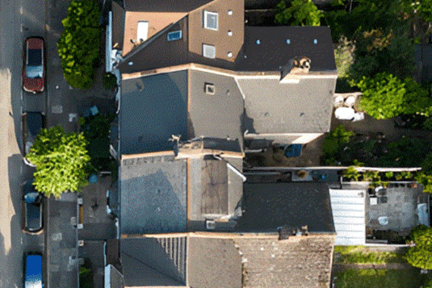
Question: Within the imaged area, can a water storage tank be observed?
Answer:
No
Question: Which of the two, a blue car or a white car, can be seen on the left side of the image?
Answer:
blue car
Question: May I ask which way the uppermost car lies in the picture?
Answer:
from top to bottom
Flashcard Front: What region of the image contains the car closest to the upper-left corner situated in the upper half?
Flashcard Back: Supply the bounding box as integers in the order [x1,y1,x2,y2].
[20,38,48,95]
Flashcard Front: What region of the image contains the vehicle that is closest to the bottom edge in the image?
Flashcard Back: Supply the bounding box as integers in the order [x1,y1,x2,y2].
[22,253,45,288]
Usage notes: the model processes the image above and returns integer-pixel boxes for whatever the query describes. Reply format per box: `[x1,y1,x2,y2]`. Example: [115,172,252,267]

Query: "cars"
[19,112,44,166]
[20,182,46,234]
[20,38,48,95]
[22,253,45,288]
